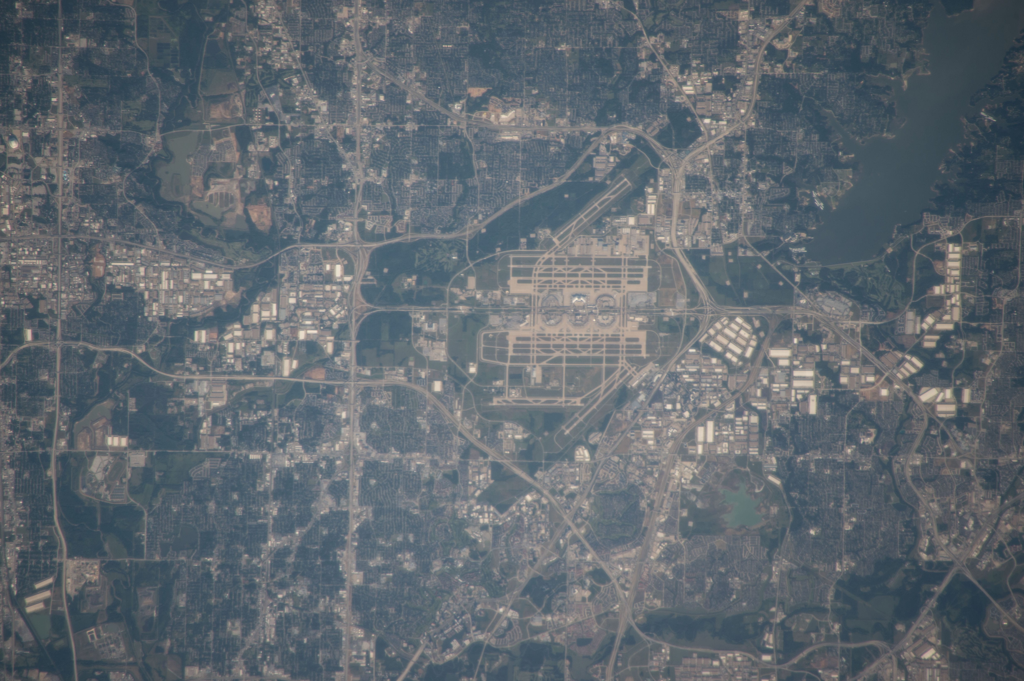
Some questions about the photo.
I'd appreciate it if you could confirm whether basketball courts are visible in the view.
No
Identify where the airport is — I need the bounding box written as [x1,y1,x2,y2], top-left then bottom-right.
[481,179,661,449]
